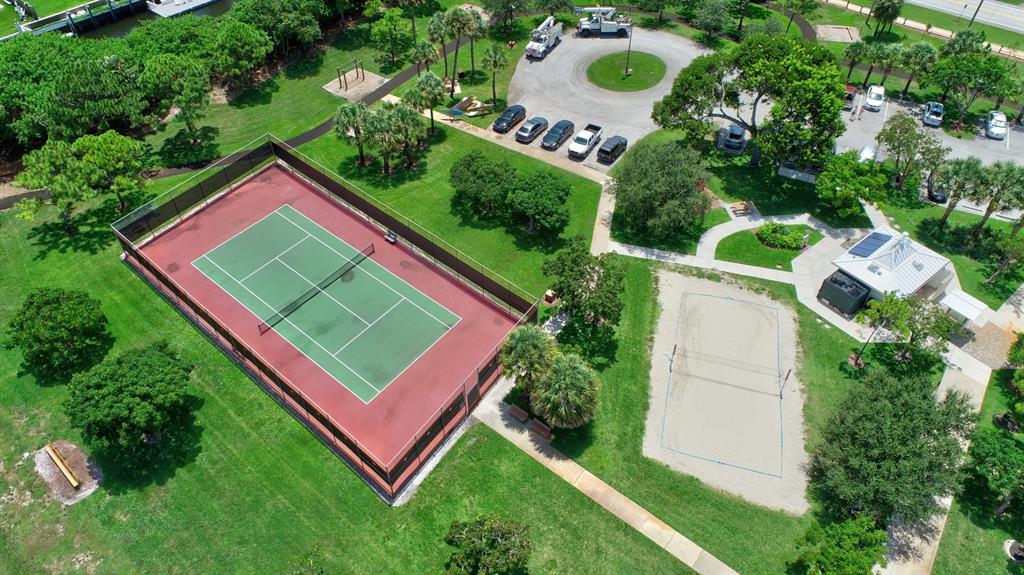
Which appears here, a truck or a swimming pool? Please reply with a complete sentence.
The one in the frame is a truck.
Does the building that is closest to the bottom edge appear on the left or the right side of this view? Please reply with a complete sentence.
The building that is closest to the bottom edge appears in the right half of the scene.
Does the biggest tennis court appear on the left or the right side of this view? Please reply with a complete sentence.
It is on the left.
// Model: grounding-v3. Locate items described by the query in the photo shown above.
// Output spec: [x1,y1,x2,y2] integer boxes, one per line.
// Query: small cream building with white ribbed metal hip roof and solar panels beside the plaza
[832,225,950,308]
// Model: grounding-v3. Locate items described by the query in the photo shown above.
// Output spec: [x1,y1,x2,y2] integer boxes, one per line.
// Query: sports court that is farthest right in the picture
[643,269,812,514]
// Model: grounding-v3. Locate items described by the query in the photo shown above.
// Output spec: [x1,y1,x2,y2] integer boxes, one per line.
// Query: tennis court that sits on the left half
[122,157,541,501]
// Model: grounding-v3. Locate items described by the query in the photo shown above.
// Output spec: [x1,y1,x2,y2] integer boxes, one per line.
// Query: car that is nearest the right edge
[985,111,1009,140]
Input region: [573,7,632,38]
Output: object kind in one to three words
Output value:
truck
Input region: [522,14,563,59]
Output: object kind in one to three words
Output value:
truck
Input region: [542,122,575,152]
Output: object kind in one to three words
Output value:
car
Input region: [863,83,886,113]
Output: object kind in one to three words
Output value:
car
